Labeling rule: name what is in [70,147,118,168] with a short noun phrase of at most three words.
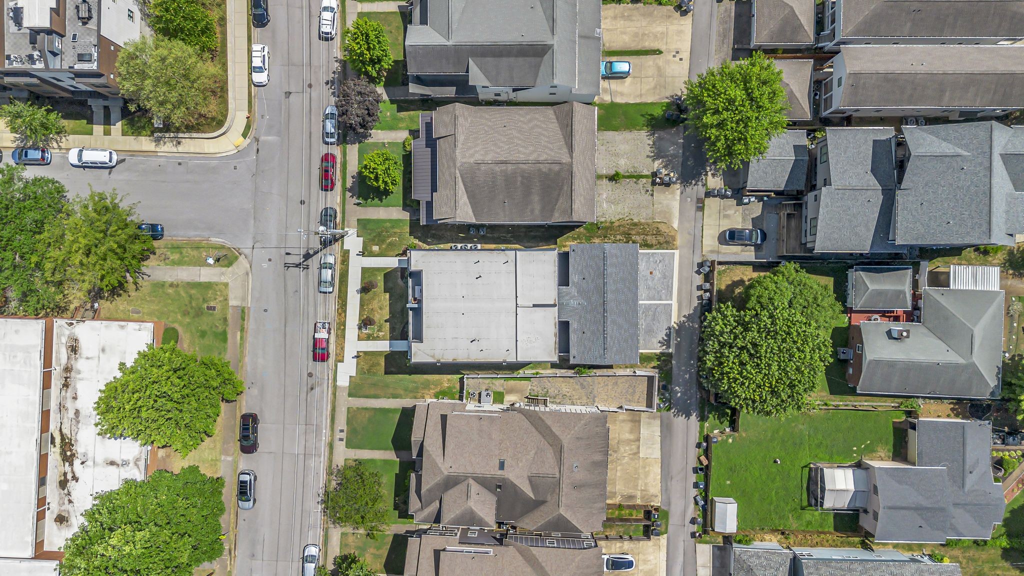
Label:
car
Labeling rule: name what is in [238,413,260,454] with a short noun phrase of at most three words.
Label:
car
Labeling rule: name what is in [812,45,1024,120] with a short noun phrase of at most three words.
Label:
house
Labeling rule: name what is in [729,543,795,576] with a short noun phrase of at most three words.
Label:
building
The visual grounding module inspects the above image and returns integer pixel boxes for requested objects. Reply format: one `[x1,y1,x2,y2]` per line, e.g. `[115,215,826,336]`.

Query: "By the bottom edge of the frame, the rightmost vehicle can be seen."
[601,553,637,574]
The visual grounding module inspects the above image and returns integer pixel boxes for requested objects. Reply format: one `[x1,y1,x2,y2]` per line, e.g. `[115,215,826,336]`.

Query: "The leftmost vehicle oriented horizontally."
[12,148,53,165]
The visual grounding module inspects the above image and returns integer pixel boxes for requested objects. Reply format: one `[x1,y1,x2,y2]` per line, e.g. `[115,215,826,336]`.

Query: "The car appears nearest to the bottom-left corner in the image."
[238,470,257,510]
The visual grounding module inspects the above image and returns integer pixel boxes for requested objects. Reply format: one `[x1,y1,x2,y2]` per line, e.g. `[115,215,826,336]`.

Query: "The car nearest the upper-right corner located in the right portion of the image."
[722,226,765,246]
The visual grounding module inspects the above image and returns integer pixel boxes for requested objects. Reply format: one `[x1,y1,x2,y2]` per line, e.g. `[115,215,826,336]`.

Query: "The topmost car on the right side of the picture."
[601,58,632,79]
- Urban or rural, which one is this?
urban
